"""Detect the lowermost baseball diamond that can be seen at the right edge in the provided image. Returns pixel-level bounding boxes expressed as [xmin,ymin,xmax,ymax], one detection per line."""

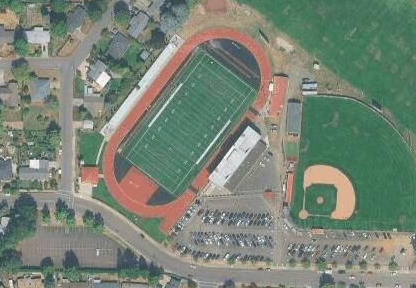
[289,95,416,231]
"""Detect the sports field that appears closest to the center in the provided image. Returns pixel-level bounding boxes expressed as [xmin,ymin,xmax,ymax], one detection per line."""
[122,48,257,197]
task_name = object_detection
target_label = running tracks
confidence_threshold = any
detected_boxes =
[112,35,271,235]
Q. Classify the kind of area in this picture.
sports ground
